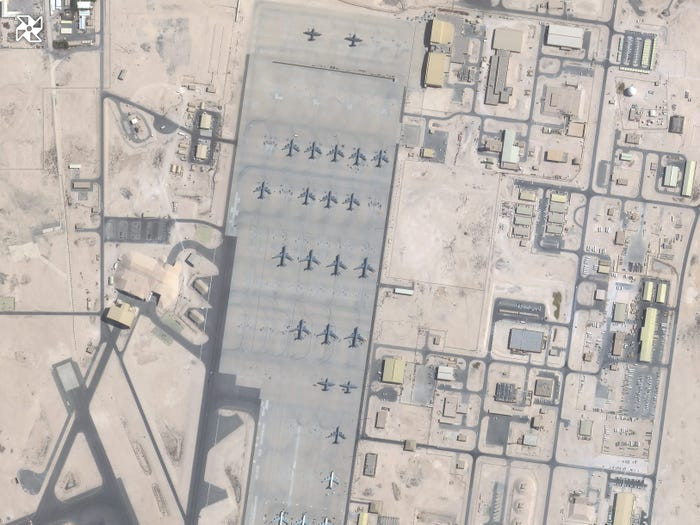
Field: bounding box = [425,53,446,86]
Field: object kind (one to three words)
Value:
hangar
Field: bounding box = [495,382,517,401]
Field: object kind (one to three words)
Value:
building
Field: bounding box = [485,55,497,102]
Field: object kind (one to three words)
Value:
shed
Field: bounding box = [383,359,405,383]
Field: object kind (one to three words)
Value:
building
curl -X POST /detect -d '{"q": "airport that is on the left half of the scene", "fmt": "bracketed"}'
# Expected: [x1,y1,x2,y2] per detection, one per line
[6,0,424,525]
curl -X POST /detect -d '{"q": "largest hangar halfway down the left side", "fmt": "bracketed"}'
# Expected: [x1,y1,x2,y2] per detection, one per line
[107,305,135,326]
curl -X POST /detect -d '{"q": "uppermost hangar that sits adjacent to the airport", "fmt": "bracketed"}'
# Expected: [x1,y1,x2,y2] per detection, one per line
[431,19,455,44]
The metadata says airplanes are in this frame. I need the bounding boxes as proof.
[273,512,290,525]
[304,142,321,159]
[328,427,345,444]
[299,250,320,271]
[319,191,337,208]
[282,139,299,157]
[317,378,335,391]
[340,381,358,394]
[272,246,293,267]
[304,28,321,41]
[294,514,310,525]
[371,150,388,167]
[326,255,347,276]
[326,145,344,163]
[297,187,314,206]
[354,258,375,279]
[345,33,362,46]
[290,319,310,341]
[349,148,366,165]
[323,472,340,489]
[342,193,360,211]
[317,324,337,345]
[345,327,364,348]
[253,182,271,200]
